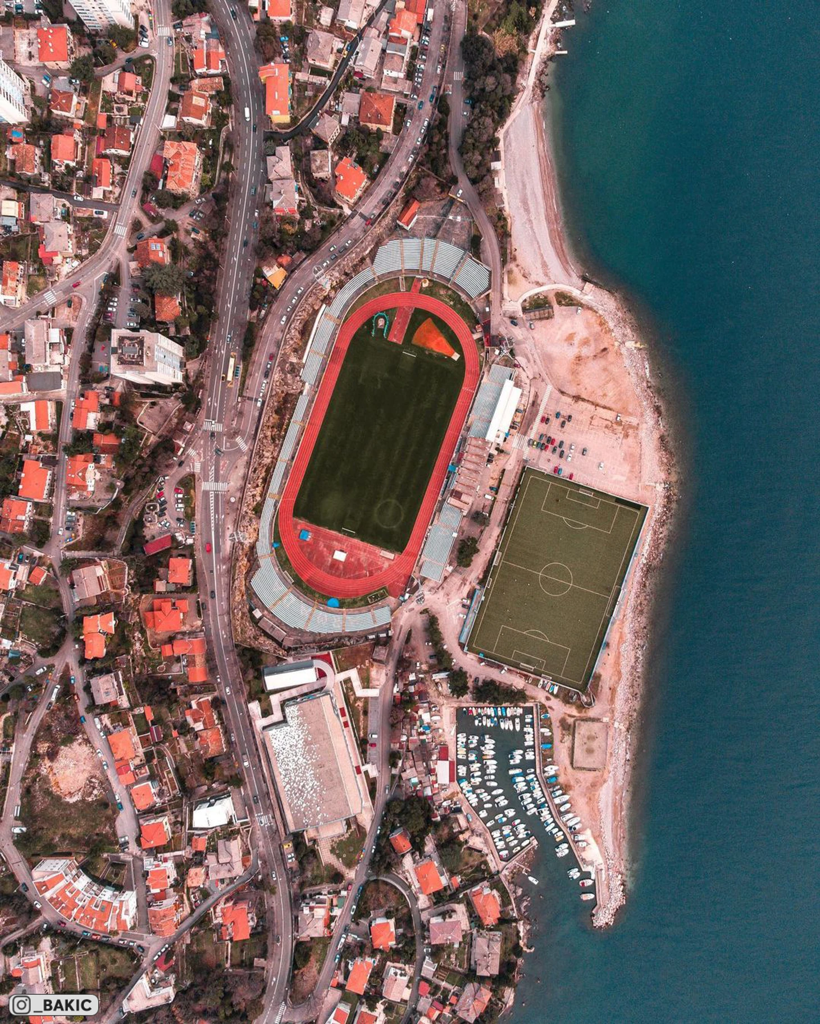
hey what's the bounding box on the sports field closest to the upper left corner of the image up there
[293,308,462,554]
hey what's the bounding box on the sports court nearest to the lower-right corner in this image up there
[574,721,608,770]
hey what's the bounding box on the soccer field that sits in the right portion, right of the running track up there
[466,468,648,690]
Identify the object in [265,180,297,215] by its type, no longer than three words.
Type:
house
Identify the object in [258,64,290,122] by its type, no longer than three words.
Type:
building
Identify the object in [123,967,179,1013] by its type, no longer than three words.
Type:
building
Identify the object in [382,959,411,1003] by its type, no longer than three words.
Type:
house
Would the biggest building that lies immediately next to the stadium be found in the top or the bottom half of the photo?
bottom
